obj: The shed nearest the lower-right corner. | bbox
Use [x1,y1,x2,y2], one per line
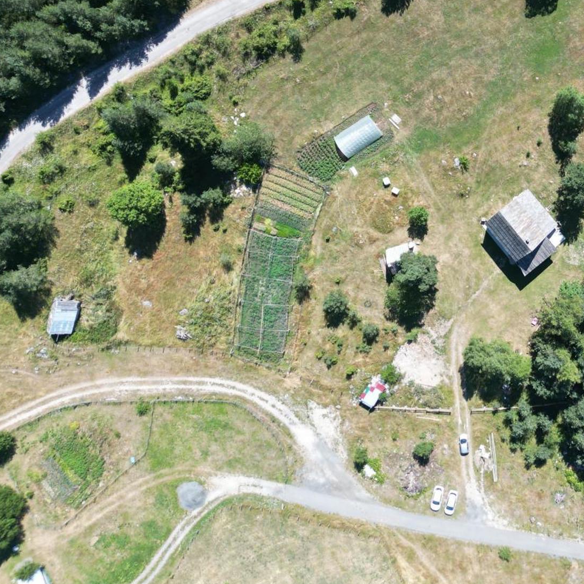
[361,382,386,407]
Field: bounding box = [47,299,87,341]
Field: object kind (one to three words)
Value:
shed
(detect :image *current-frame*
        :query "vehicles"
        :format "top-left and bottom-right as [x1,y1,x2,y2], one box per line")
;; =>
[458,432,469,457]
[444,488,458,516]
[430,484,443,512]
